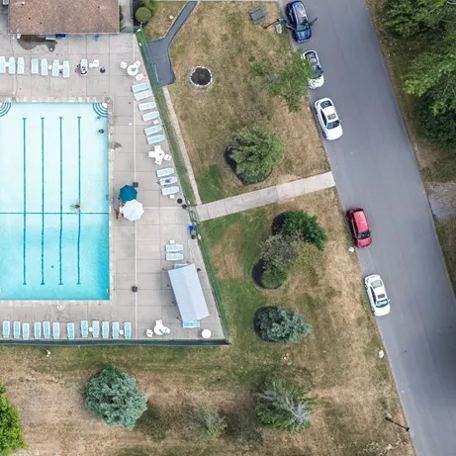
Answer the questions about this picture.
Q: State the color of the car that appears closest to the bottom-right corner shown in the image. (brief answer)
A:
white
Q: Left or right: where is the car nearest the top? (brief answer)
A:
right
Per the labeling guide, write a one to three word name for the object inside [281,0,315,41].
car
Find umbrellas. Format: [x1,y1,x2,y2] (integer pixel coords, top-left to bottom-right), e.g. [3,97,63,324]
[120,199,143,221]
[118,183,137,201]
